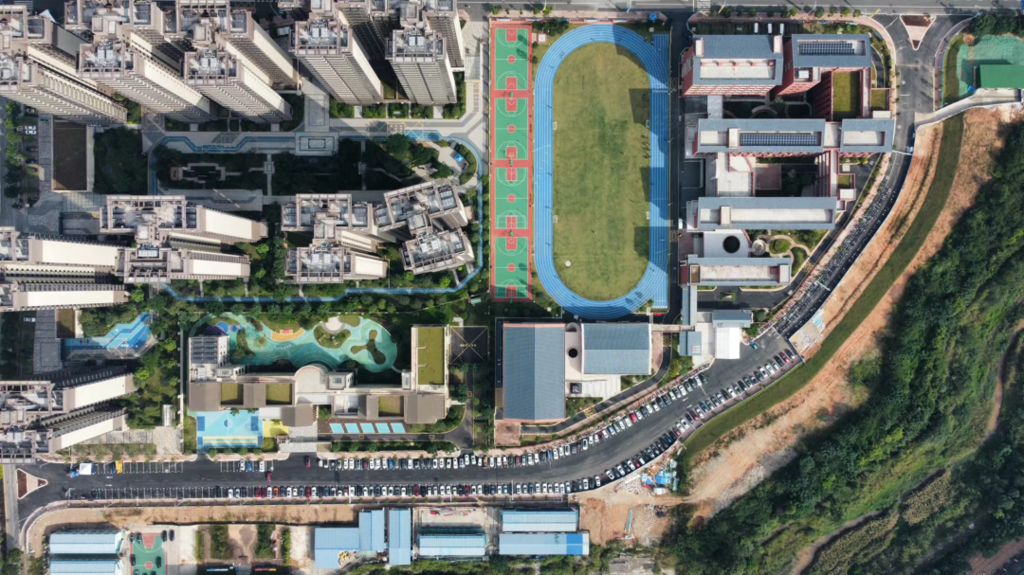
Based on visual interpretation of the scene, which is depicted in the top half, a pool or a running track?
running track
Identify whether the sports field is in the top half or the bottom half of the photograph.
top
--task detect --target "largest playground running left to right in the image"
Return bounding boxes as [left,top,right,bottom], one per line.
[190,312,397,373]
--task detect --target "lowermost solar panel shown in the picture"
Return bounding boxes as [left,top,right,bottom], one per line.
[191,339,216,364]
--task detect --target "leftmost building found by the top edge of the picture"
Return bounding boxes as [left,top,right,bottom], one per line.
[0,3,123,125]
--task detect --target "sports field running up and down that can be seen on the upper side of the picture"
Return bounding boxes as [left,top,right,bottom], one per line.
[553,42,650,300]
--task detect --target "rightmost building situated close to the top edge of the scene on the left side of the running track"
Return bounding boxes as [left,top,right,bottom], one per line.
[371,0,467,103]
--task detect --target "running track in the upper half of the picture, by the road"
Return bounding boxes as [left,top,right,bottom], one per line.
[534,23,669,319]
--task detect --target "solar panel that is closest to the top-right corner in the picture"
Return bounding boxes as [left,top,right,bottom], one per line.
[800,42,853,54]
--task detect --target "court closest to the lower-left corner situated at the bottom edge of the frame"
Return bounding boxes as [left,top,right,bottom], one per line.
[131,534,167,575]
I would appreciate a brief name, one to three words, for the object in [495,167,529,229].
basketball court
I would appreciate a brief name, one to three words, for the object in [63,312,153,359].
playground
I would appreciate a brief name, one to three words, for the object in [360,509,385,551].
shed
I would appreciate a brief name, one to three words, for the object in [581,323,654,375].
building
